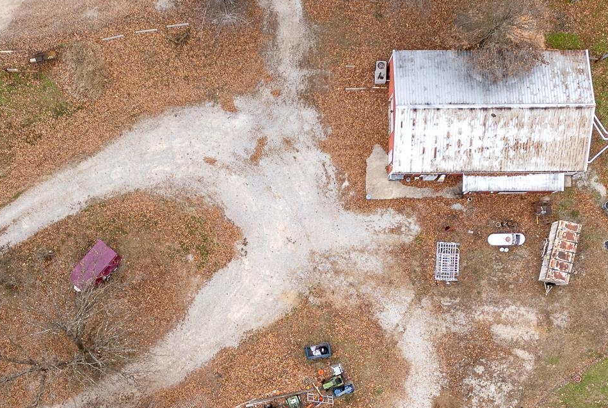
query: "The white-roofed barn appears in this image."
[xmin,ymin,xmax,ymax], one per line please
[388,50,597,195]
